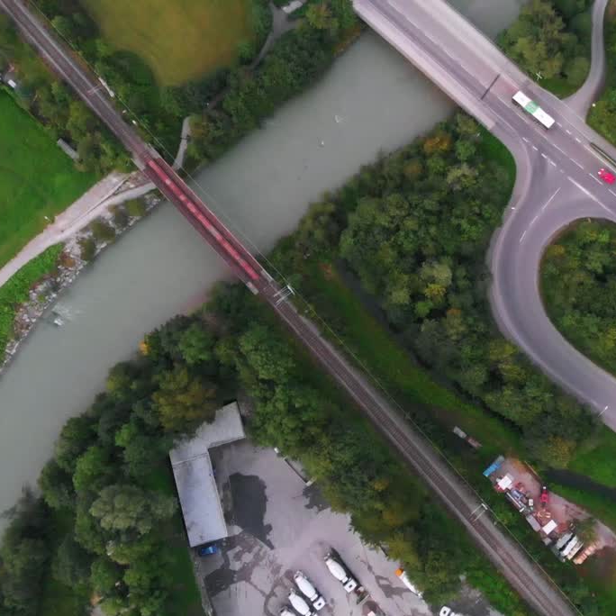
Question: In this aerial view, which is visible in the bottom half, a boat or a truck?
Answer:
truck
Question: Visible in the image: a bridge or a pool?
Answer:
bridge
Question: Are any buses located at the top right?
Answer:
Yes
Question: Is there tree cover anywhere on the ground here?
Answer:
Yes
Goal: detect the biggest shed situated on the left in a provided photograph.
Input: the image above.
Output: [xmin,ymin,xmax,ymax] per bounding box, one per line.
[169,402,248,548]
